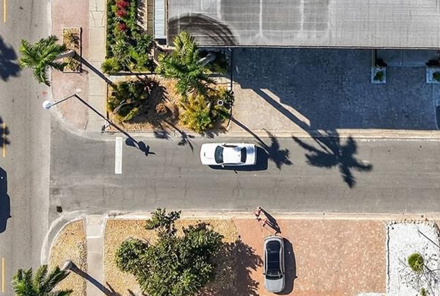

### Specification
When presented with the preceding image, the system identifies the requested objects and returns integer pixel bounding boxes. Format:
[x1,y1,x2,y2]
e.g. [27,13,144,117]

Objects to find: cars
[200,140,258,169]
[261,235,289,294]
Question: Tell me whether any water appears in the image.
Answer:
No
